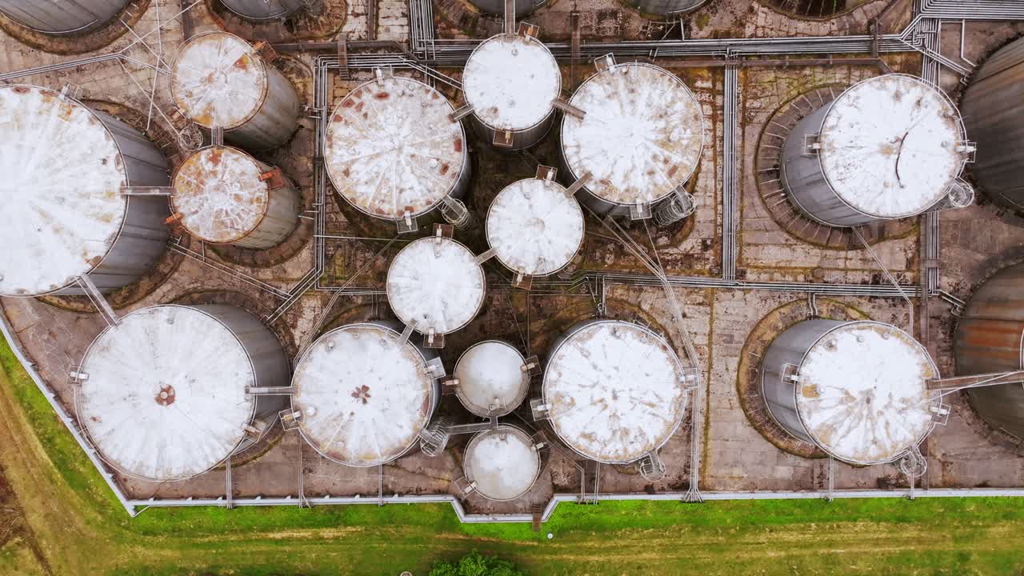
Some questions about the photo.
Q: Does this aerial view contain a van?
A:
No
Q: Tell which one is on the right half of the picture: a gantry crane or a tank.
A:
tank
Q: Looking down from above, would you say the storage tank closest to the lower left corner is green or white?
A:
white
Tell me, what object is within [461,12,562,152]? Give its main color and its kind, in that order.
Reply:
white storage tank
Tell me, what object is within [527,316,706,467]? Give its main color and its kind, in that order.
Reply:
white storage tank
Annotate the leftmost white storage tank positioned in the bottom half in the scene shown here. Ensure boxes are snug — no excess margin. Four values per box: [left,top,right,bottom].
[52,301,290,485]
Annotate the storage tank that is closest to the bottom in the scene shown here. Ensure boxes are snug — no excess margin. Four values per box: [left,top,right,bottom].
[451,409,555,506]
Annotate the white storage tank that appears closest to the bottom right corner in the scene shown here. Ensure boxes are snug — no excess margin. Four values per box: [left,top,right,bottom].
[758,317,963,468]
